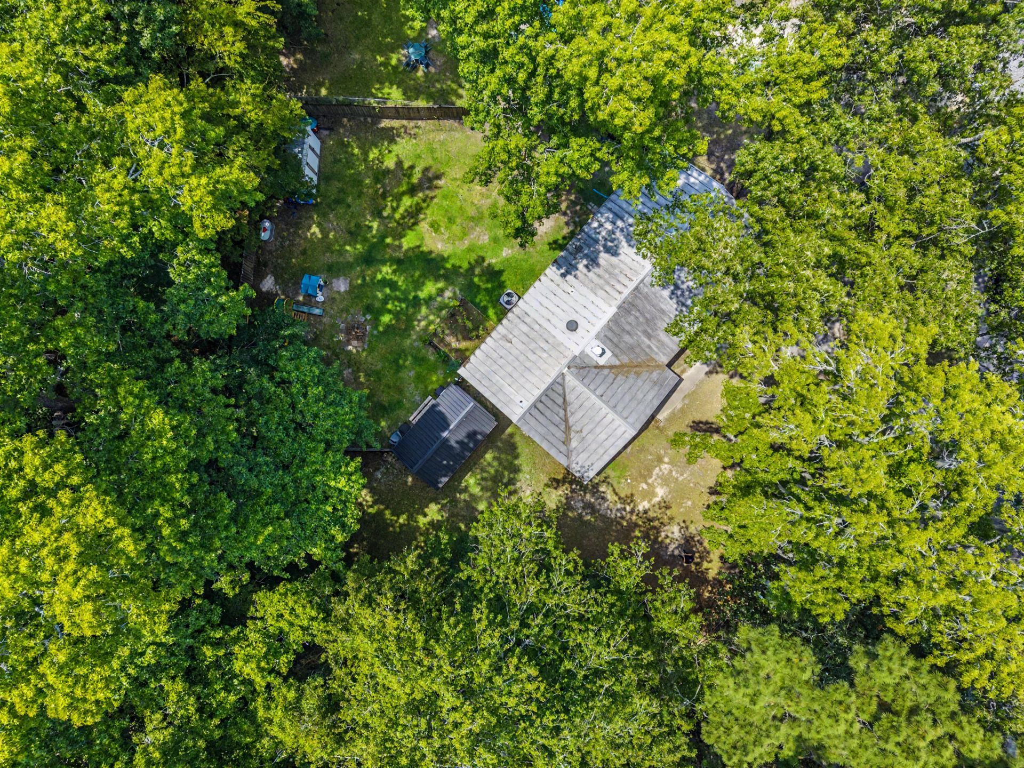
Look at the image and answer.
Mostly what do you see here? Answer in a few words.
trees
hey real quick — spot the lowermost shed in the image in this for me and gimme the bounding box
[392,381,499,491]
